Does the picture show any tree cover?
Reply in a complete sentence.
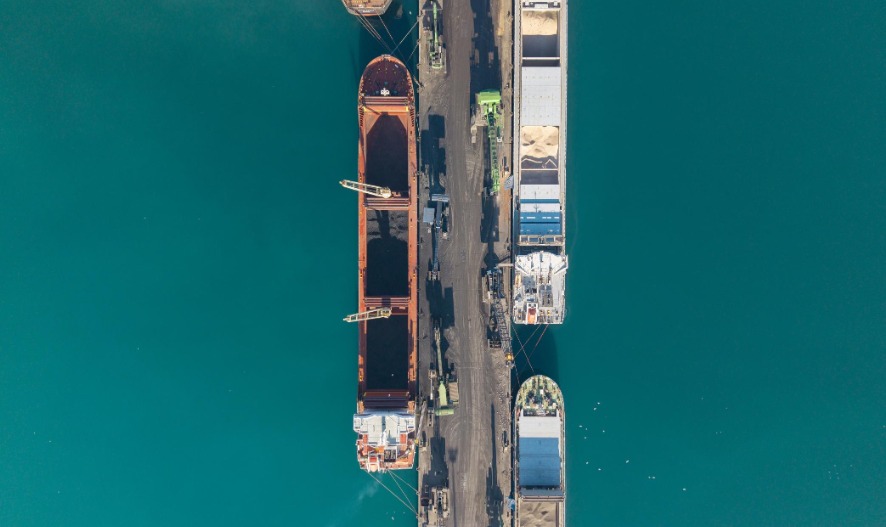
No, tree cover can't be seen anywhere here.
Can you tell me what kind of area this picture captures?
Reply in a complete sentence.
What you see here is a port.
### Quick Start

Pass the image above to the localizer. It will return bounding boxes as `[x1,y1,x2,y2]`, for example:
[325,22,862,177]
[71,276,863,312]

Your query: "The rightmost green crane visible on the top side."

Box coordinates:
[477,88,504,194]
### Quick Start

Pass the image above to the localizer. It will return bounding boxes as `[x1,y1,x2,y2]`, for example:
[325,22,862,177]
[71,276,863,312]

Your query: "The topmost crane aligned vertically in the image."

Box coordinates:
[427,0,449,74]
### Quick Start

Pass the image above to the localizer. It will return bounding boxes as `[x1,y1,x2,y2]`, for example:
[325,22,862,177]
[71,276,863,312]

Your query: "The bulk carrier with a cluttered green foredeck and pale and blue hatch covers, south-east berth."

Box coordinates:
[512,375,566,527]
